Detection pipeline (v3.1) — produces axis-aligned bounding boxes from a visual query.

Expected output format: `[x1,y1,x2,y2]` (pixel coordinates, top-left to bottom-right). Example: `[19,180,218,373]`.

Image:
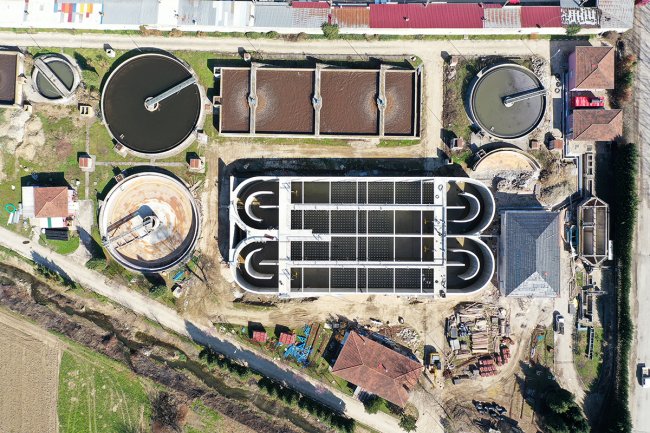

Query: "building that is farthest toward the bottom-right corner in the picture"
[500,210,560,297]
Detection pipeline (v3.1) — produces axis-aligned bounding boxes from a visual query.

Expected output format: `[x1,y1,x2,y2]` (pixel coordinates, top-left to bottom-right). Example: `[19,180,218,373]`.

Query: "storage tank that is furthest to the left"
[29,52,82,105]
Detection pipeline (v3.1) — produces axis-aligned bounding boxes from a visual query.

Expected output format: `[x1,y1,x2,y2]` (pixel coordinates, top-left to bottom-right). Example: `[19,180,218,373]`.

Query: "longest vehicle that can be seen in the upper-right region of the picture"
[570,95,600,107]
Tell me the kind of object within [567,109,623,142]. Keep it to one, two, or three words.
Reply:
house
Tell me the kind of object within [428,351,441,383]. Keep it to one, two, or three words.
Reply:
vehicle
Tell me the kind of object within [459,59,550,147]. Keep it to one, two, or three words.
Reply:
storage tank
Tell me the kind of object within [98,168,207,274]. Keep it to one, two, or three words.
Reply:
storage tank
